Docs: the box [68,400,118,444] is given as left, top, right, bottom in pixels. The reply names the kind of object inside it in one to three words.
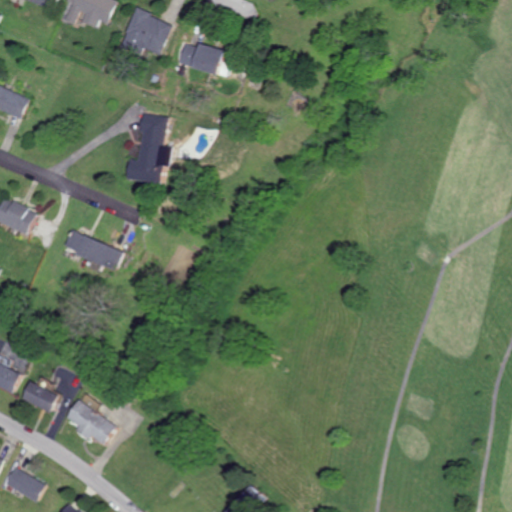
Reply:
house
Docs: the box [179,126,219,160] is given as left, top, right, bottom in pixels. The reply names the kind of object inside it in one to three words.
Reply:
swimming pool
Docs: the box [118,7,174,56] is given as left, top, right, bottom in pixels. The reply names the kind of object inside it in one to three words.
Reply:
house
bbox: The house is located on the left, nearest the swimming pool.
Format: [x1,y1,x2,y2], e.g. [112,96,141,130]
[124,112,173,183]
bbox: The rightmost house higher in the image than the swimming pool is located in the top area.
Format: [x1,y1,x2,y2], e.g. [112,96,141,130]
[182,43,226,74]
